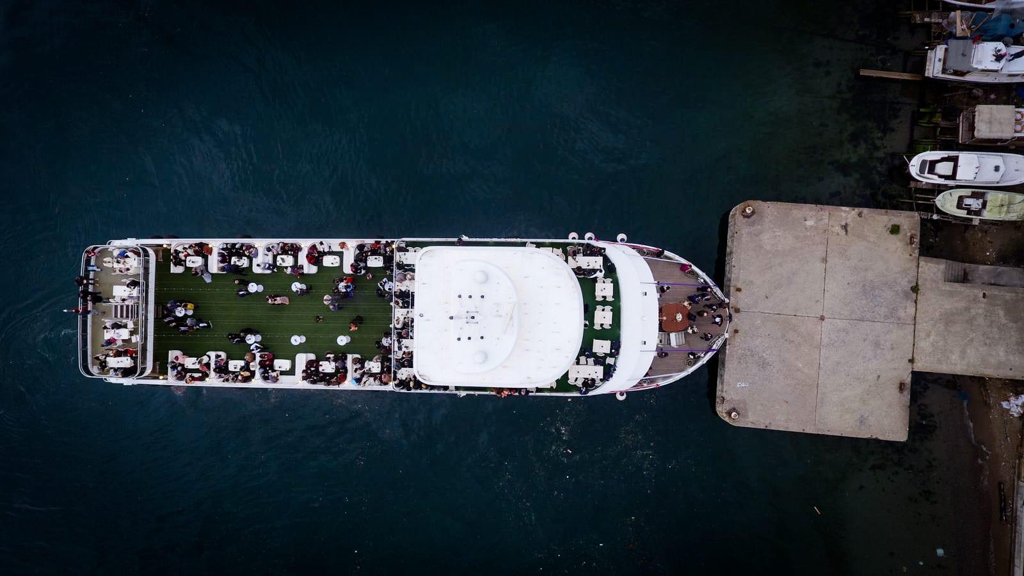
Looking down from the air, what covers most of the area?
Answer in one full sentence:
The scene is dominated by water.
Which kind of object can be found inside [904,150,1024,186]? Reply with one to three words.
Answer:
boat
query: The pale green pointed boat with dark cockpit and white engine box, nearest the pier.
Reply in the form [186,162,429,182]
[935,188,1024,221]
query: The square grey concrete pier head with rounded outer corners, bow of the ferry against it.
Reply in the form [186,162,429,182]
[706,201,919,440]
